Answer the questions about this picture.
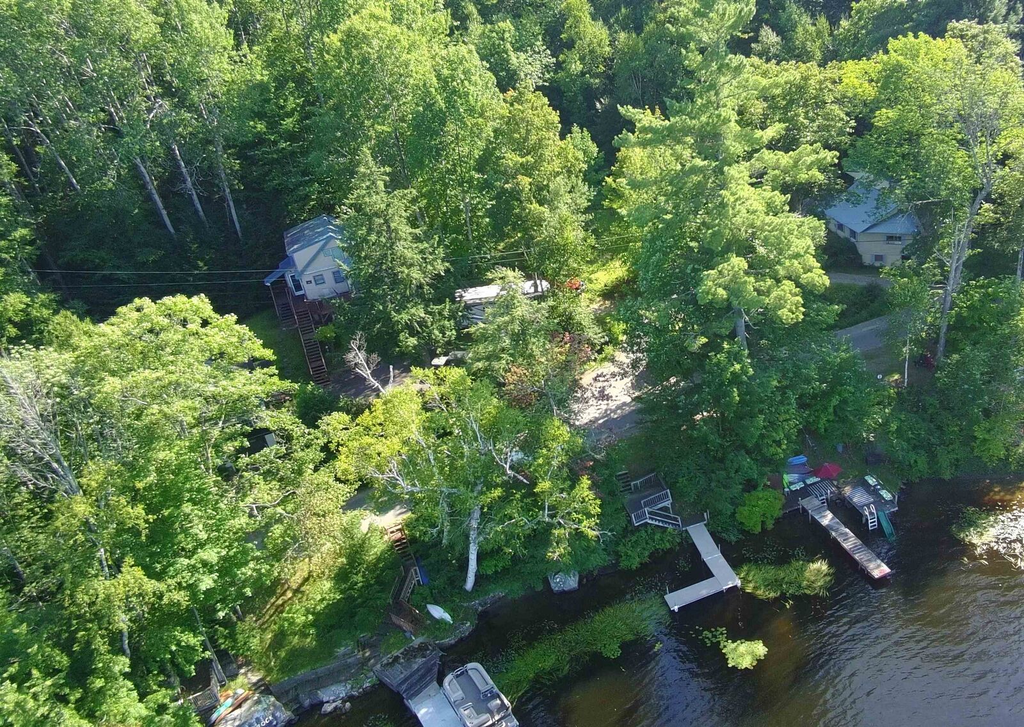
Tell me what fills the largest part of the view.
trees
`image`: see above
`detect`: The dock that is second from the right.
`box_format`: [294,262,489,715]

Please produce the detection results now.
[654,522,742,611]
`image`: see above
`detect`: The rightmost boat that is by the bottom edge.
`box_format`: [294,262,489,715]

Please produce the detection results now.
[450,661,522,727]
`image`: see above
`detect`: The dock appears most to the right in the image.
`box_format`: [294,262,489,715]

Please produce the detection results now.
[800,496,892,582]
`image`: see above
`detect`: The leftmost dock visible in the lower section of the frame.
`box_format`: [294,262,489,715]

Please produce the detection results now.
[405,683,463,727]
